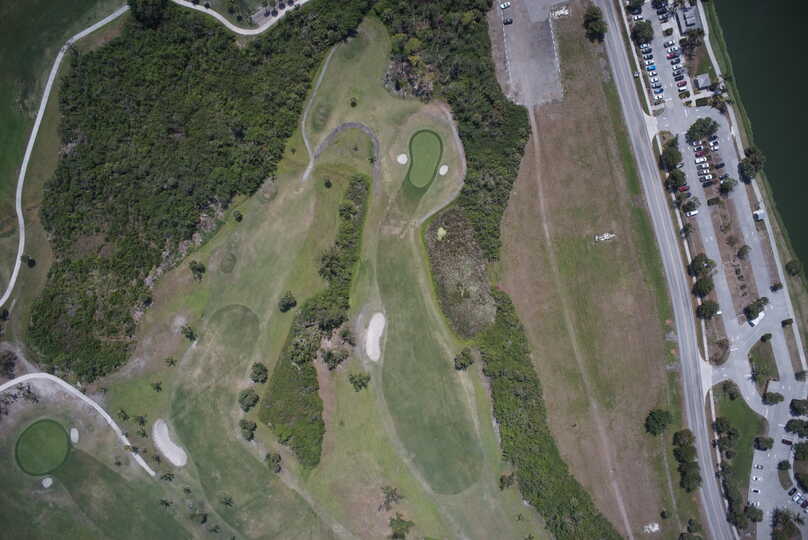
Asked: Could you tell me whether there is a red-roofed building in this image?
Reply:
No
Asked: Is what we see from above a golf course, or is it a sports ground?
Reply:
golf course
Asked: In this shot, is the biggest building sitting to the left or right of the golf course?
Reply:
on its right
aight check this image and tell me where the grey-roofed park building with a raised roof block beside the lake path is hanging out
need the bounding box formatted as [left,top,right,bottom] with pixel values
[675,6,703,36]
